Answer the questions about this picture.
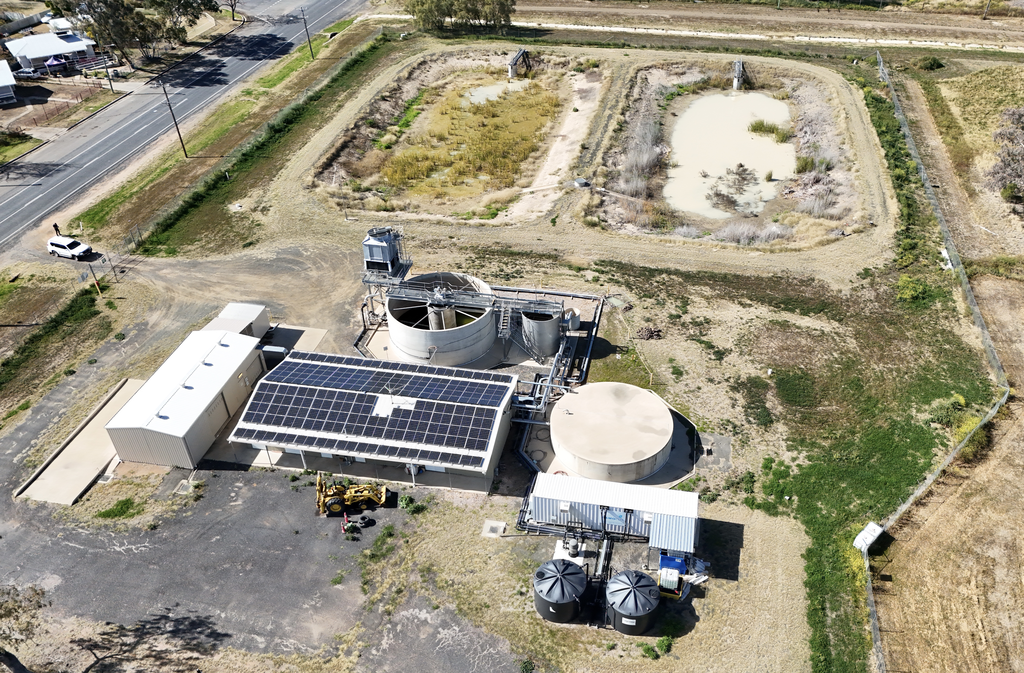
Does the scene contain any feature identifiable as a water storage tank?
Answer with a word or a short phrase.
Yes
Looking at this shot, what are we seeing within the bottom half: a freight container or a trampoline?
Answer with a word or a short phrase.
freight container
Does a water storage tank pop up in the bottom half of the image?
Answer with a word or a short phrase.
Yes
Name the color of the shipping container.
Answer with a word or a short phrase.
white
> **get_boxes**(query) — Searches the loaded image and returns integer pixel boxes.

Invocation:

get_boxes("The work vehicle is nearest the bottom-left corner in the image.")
[309,480,388,518]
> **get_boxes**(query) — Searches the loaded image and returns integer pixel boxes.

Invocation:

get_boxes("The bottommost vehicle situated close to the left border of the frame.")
[47,235,94,260]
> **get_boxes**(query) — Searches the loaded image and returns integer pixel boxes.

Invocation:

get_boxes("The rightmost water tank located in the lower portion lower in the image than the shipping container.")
[603,568,660,635]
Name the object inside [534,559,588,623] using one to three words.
water tank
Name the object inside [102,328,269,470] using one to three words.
shed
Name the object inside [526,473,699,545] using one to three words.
shipping container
